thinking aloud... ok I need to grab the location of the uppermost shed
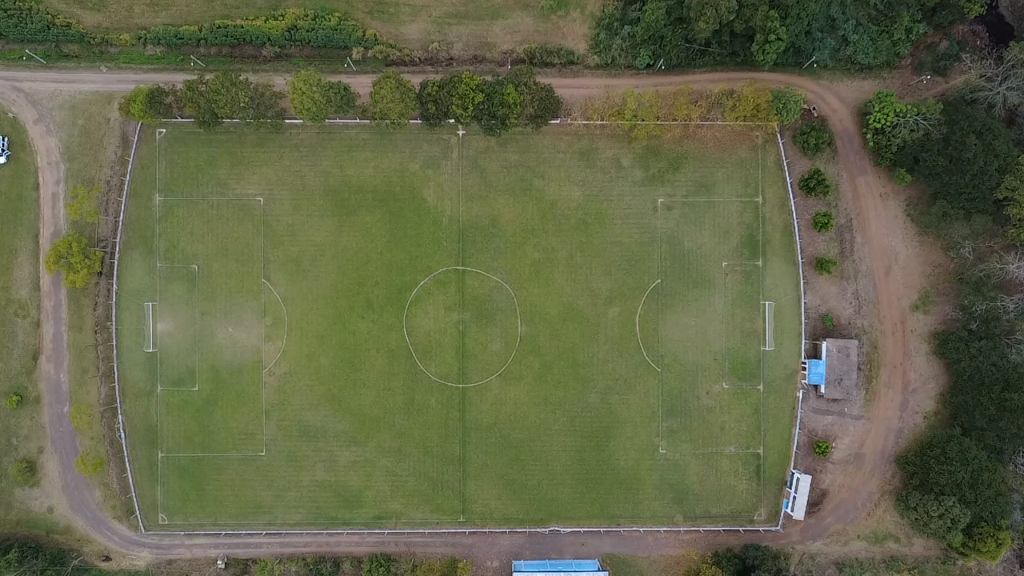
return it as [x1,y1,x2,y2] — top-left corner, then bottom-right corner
[800,339,858,400]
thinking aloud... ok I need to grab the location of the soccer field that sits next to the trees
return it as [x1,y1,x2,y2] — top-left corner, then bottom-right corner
[118,125,801,529]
